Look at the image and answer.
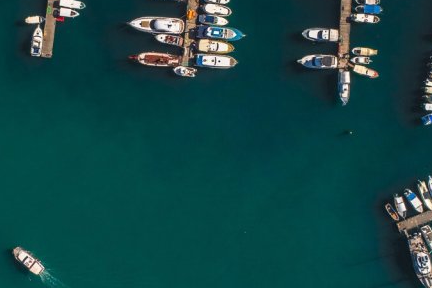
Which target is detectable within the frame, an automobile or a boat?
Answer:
boat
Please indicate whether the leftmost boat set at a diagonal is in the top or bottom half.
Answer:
bottom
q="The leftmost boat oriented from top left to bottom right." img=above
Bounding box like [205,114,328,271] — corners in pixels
[14,247,46,277]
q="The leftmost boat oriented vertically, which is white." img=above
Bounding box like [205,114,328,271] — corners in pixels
[31,23,43,59]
